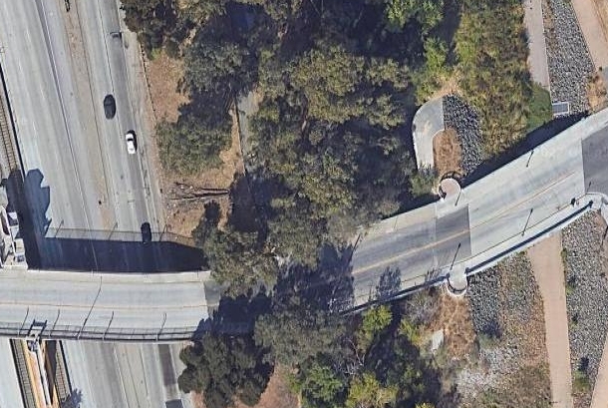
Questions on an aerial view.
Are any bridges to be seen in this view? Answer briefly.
Yes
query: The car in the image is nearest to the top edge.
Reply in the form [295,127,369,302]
[103,94,116,118]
